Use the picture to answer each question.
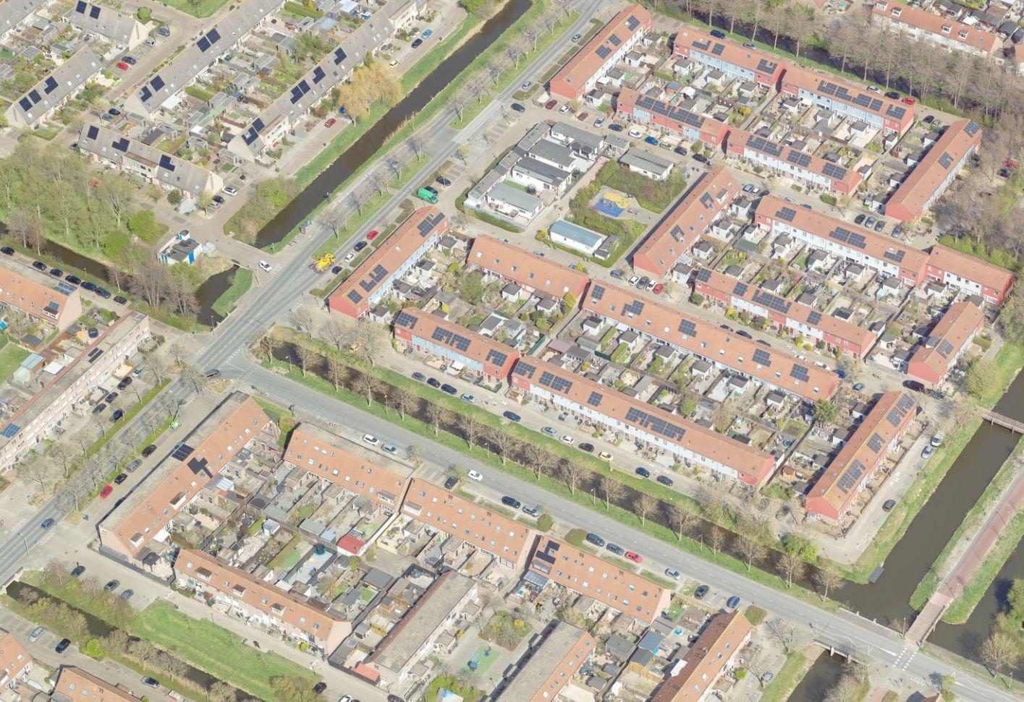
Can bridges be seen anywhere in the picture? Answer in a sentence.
Yes, there's a bridge down there.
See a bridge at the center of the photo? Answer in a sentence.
No, no bridge is visible at the center of the photo.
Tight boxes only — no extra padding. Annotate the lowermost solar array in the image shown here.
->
[540,543,562,567]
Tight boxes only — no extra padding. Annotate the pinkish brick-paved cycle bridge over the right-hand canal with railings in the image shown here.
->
[906,597,952,645]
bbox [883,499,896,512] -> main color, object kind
gray vehicle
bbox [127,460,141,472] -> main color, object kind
gray vehicle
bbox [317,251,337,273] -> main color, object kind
yellow vehicle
